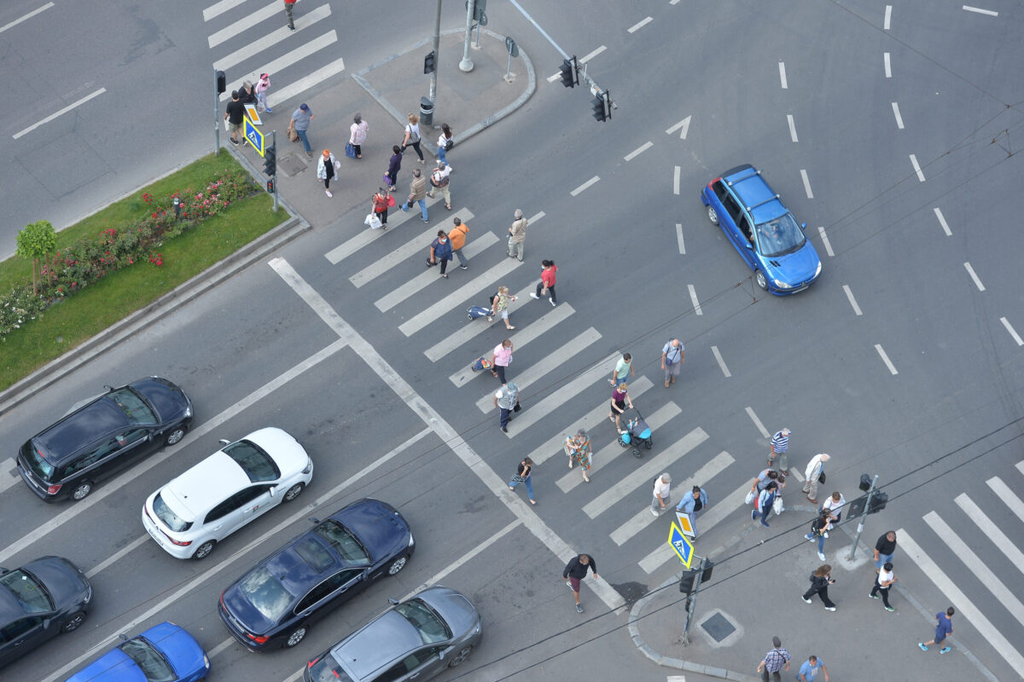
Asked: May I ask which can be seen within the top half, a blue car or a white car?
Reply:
blue car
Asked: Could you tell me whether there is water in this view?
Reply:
No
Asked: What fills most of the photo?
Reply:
paved ground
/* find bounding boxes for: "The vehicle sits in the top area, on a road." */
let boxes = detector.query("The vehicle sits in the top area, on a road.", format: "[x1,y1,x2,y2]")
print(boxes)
[704,161,824,296]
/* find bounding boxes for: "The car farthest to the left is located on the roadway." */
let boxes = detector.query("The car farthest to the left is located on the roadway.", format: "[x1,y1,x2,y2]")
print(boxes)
[0,551,94,671]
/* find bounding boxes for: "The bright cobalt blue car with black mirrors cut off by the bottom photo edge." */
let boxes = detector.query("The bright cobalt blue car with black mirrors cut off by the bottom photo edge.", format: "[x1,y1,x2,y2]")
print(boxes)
[42,617,203,682]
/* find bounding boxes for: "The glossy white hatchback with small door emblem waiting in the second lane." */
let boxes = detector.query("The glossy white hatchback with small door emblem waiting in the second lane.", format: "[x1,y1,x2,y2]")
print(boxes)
[135,425,311,561]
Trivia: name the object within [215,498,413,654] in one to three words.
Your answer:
car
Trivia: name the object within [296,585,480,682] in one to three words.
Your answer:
car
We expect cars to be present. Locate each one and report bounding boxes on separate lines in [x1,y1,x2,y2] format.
[0,551,94,671]
[135,425,311,561]
[42,617,203,682]
[14,373,195,503]
[704,161,824,296]
[215,498,413,654]
[296,585,480,682]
